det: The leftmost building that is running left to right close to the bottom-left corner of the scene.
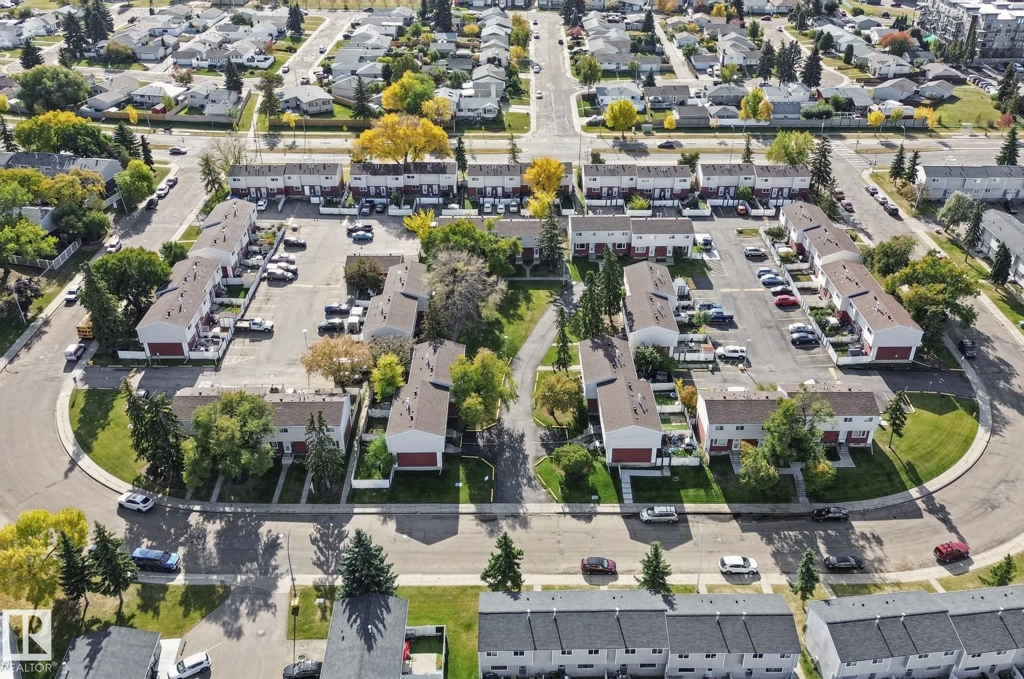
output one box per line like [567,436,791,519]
[60,633,166,679]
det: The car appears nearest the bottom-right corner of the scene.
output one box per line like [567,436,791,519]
[932,543,975,565]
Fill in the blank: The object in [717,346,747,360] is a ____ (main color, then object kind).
white car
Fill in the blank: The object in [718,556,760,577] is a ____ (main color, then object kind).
white car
